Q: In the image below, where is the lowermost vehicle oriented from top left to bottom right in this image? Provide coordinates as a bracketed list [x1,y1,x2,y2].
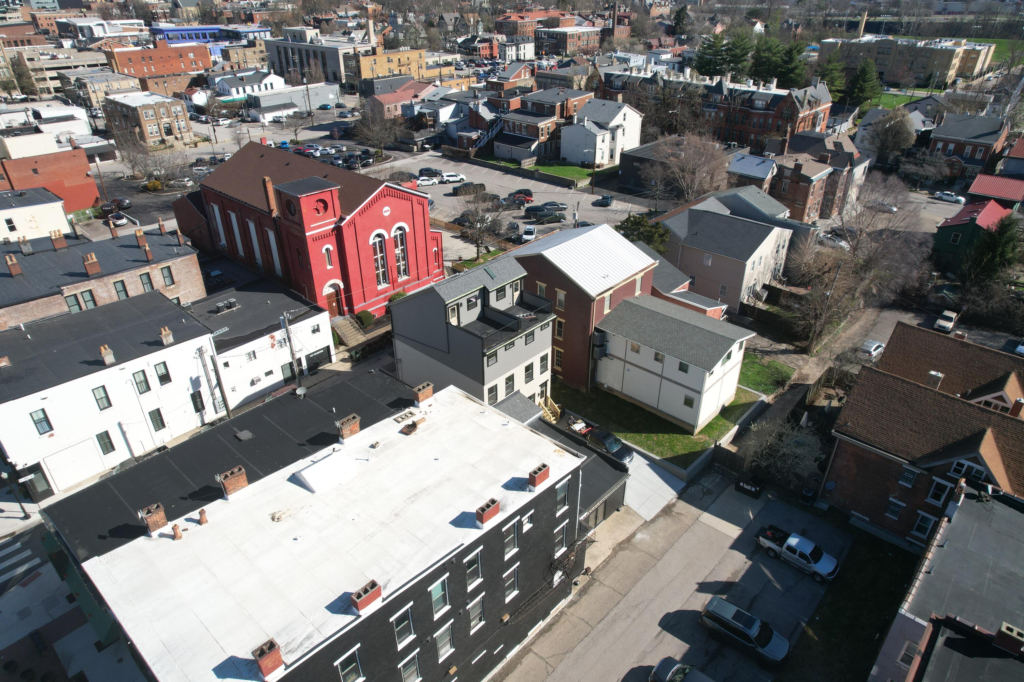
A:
[699,593,791,668]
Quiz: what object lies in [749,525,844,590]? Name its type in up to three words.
truck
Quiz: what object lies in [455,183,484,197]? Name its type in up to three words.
vehicle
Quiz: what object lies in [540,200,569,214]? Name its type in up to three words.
car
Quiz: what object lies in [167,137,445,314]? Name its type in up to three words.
church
